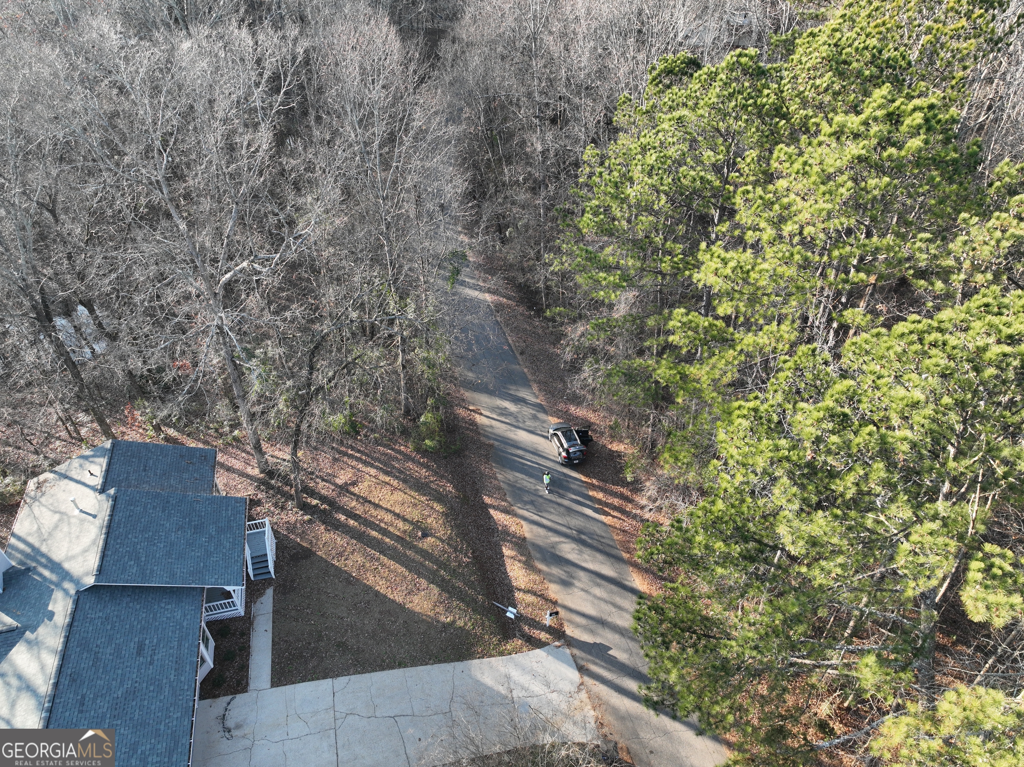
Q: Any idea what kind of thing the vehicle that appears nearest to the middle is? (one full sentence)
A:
The vehicle that appears nearest to the middle in the image is a car.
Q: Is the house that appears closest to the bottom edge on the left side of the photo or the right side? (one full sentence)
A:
You can find the house that appears closest to the bottom edge on the left side of the picture.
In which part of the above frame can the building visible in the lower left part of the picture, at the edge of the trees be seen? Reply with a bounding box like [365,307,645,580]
[0,436,275,767]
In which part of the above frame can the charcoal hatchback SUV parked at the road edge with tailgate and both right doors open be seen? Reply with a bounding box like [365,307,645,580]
[547,419,598,470]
